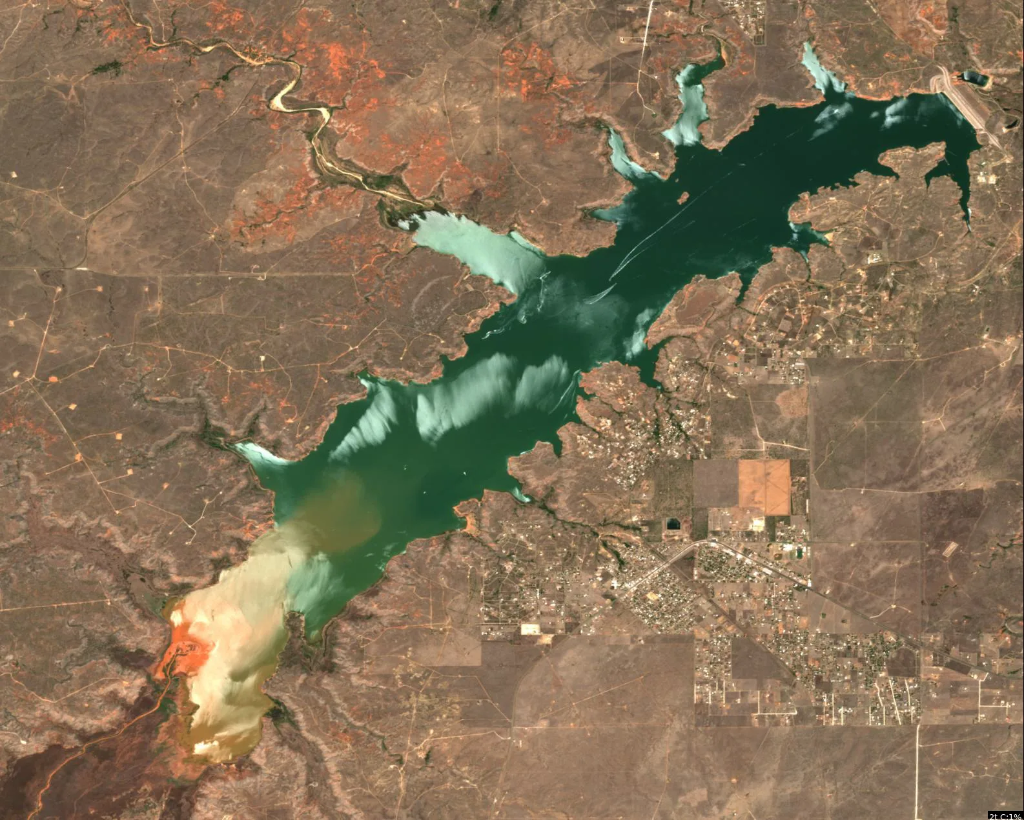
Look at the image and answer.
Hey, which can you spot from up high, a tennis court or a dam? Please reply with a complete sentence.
It is a dam that can be seen here.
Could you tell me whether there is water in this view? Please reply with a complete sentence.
Yes, water can be seen from above here.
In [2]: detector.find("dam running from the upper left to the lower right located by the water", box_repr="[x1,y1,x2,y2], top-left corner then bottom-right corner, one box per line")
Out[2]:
[931,63,1008,159]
